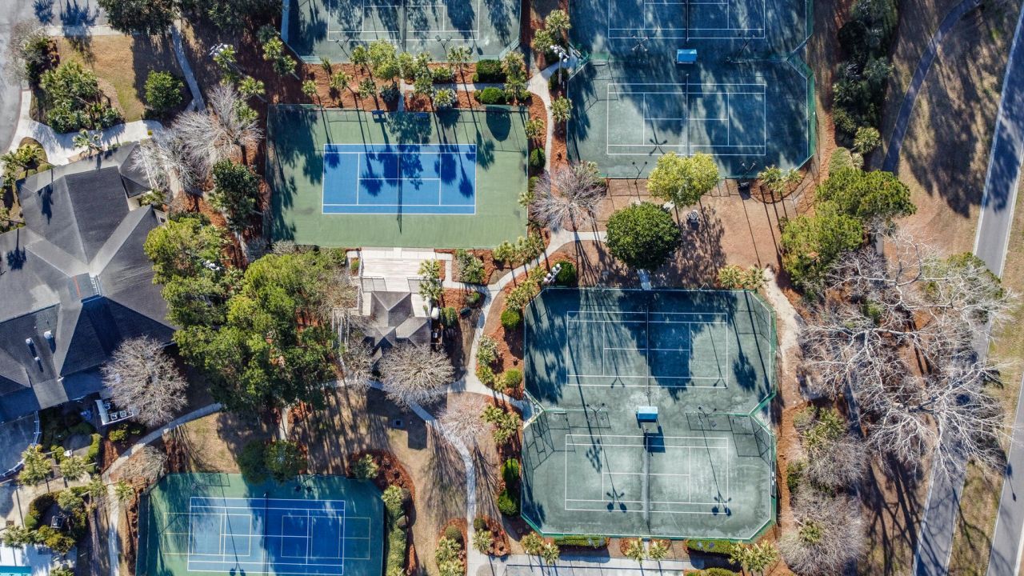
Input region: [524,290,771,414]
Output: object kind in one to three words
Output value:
tennis court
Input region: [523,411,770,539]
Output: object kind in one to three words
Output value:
tennis court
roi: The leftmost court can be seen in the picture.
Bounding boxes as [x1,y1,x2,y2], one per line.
[147,474,382,576]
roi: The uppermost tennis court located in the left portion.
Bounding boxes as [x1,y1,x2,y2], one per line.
[287,0,520,62]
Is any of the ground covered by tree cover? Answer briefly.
Yes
